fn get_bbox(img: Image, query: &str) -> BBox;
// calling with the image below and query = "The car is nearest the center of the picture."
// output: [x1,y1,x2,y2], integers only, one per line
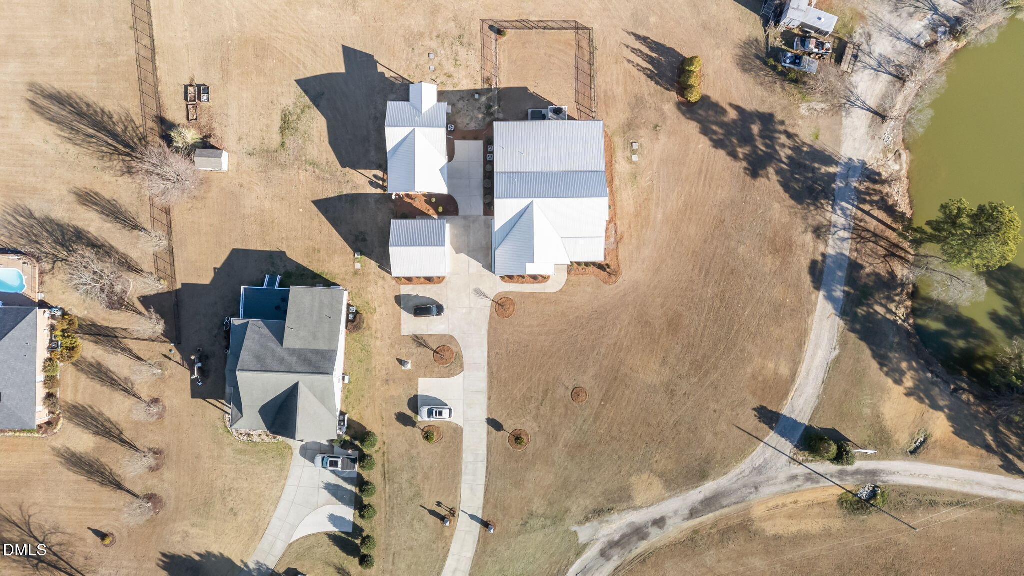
[413,302,443,317]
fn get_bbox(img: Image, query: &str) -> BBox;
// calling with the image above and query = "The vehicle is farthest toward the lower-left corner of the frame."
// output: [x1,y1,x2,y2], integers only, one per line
[315,453,357,471]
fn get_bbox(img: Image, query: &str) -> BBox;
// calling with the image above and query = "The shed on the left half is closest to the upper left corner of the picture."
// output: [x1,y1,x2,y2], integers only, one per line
[193,148,229,176]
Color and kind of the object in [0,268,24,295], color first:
white swimming pool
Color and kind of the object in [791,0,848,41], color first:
white trailer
